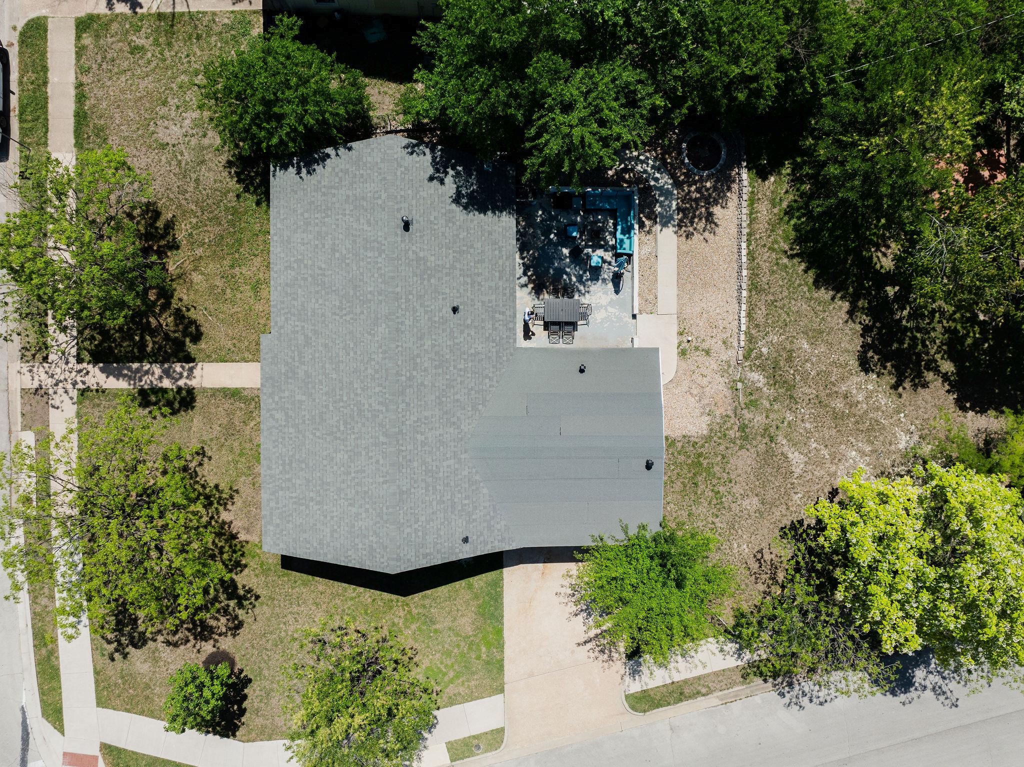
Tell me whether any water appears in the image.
No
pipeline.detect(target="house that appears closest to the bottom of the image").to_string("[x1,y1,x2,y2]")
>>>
[261,133,666,574]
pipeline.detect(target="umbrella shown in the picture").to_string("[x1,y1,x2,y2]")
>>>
[611,255,634,280]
